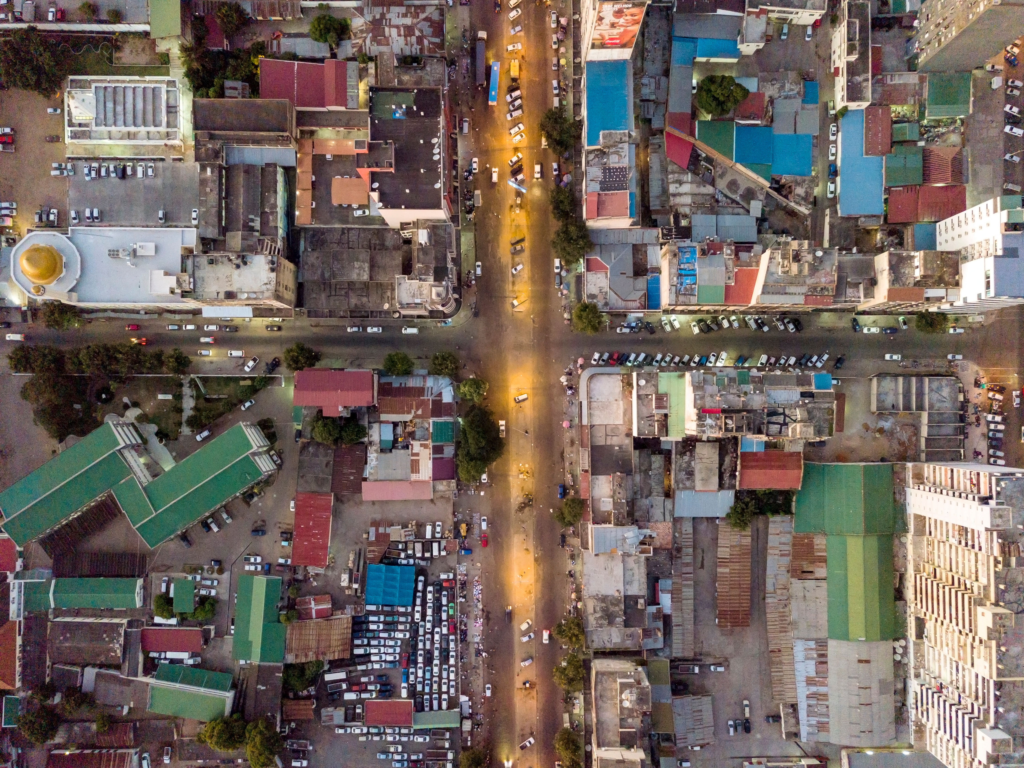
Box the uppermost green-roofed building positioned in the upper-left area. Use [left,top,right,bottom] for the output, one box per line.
[148,0,188,45]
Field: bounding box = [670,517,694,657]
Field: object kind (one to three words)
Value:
shed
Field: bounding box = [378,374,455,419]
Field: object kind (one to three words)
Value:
house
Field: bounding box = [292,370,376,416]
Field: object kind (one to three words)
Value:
building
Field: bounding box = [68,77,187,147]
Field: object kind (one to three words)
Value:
building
